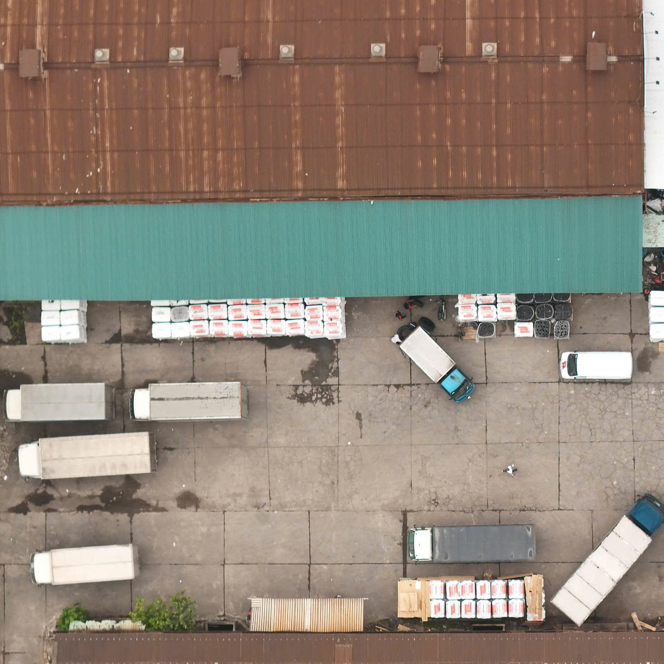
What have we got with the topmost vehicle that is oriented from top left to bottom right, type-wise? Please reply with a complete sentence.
In the photo, the topmost vehicle that is oriented from top left to bottom right shows up as a truck.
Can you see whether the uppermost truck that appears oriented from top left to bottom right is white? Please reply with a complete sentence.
Yes, the uppermost truck that appears oriented from top left to bottom right appears white.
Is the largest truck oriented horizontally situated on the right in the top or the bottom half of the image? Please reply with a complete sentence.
You can find the largest truck oriented horizontally situated on the right in the bottom half.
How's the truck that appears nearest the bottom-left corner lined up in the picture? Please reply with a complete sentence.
From this overhead view, the truck that appears nearest the bottom-left corner appears to run from side to side.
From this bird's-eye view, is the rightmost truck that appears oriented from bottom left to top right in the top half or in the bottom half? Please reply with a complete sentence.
The rightmost truck that appears oriented from bottom left to top right sits in the bottom half of the picture.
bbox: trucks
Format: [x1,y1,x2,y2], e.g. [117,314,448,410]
[16,431,160,482]
[399,326,480,407]
[27,543,143,589]
[130,381,248,423]
[0,383,118,426]
[551,487,664,625]
[408,522,537,564]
